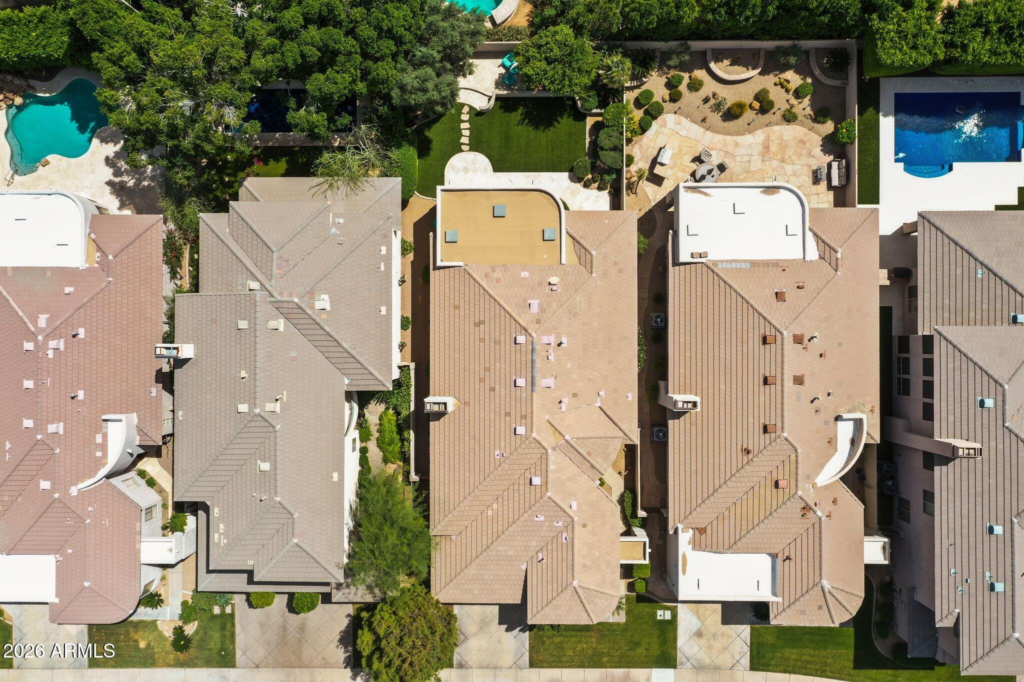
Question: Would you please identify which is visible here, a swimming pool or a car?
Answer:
swimming pool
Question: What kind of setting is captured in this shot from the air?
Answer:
residential area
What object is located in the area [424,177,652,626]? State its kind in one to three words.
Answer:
house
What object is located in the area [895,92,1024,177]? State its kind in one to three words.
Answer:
swimming pool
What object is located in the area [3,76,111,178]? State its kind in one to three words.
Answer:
swimming pool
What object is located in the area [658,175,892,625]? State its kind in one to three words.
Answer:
house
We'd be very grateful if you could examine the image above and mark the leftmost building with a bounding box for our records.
[0,191,184,627]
